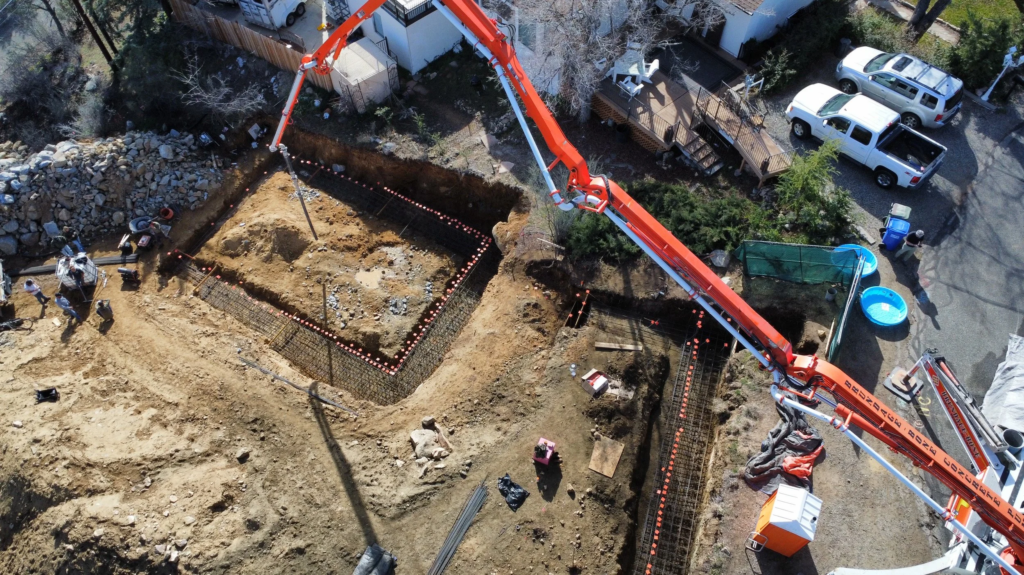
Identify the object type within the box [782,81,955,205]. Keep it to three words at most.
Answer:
truck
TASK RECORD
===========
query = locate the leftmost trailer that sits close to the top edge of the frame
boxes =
[238,0,308,29]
